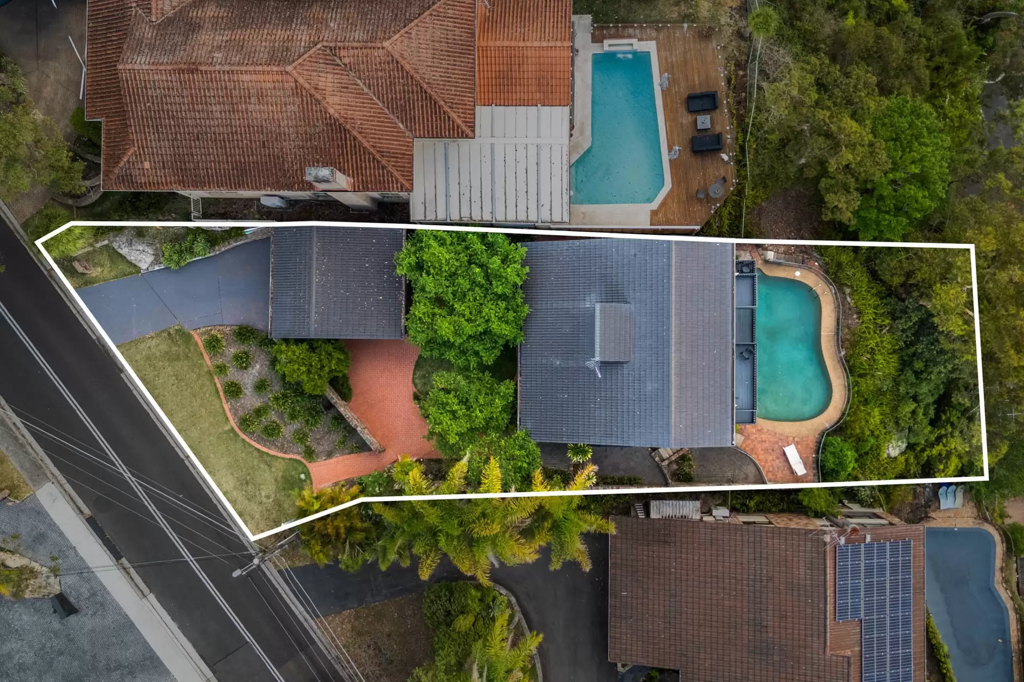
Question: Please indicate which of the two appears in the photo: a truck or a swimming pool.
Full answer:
Of the two, only a swimming pool appears.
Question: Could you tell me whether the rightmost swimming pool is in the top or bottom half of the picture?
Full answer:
The bottom half of the photo is where the rightmost swimming pool is.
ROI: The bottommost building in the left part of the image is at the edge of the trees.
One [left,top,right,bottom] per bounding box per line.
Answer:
[267,223,408,339]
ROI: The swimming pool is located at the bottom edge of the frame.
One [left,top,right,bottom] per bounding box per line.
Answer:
[920,521,1023,682]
